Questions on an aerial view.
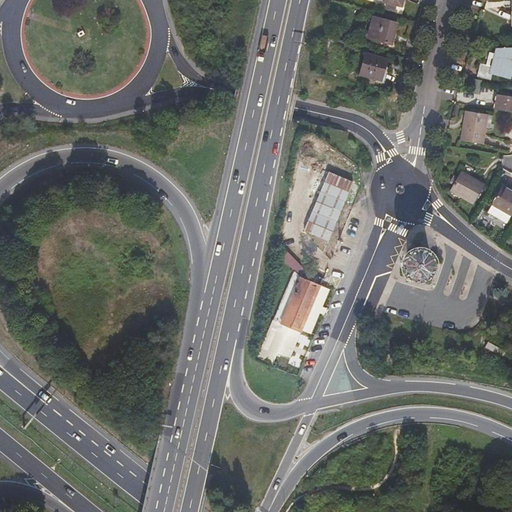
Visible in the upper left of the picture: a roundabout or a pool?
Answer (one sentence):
Looking in the upper left of the picture, you will find a roundabout.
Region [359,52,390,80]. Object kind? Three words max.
house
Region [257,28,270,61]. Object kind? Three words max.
vehicle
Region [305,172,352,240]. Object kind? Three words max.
building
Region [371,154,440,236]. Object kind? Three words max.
roundabout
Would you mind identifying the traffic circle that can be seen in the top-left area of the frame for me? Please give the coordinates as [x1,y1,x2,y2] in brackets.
[2,0,170,118]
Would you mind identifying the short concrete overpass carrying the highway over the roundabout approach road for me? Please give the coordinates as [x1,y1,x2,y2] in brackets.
[232,76,300,131]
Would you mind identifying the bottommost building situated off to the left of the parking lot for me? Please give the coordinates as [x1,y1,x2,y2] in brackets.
[258,271,330,367]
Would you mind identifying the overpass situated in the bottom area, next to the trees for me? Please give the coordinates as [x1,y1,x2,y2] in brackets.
[141,434,220,512]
